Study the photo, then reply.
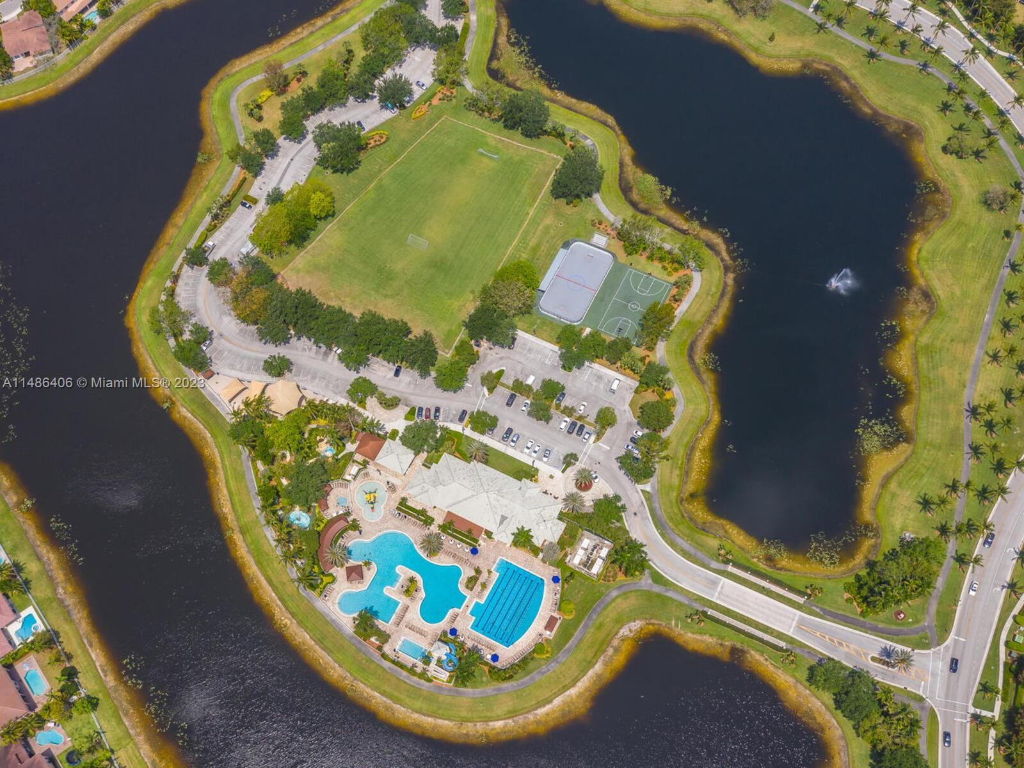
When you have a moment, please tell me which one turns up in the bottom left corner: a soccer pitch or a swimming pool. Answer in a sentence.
Looking in the bottom left corner, you will find a swimming pool.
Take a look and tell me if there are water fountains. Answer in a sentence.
Yes, there is a water fountain in the image.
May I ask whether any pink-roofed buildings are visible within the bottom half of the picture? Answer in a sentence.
Yes, there is a pink-roofed building within the bottom half of the picture.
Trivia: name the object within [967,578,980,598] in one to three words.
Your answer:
vehicle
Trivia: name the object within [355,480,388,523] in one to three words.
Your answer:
swimming pool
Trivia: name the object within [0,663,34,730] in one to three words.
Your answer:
house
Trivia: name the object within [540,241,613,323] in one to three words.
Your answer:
sports court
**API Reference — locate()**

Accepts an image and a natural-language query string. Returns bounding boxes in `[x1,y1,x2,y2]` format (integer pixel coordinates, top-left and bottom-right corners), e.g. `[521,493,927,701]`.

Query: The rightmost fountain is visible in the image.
[821,263,861,297]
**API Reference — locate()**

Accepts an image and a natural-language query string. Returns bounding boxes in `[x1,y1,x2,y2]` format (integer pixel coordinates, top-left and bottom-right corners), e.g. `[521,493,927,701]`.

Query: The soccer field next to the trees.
[281,116,562,356]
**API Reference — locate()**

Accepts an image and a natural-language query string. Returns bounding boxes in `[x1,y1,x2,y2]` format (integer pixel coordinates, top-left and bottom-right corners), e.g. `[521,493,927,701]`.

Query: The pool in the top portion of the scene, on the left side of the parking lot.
[84,9,100,24]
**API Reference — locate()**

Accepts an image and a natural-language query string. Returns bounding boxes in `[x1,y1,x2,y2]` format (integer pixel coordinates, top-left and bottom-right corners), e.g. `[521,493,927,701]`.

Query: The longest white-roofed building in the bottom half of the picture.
[405,453,566,547]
